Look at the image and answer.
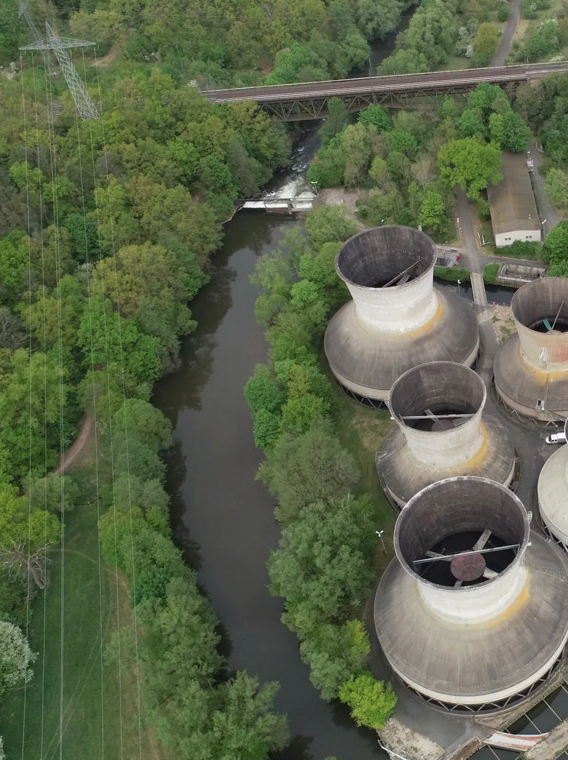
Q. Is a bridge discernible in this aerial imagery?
Yes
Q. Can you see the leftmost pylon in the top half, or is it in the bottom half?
top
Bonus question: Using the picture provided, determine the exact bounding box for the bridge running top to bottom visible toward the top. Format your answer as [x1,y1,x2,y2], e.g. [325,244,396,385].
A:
[471,270,490,307]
